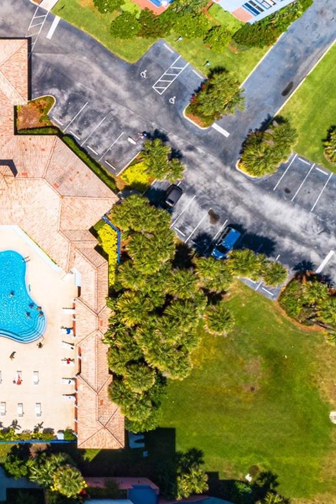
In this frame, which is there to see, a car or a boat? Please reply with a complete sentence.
This aerial view contains a car.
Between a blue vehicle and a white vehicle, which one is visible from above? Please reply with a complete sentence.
I can see a blue vehicle in this picture.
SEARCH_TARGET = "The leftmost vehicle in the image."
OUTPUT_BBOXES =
[161,179,191,211]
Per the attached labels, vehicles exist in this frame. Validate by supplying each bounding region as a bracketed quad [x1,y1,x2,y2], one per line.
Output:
[161,179,191,211]
[212,227,245,261]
